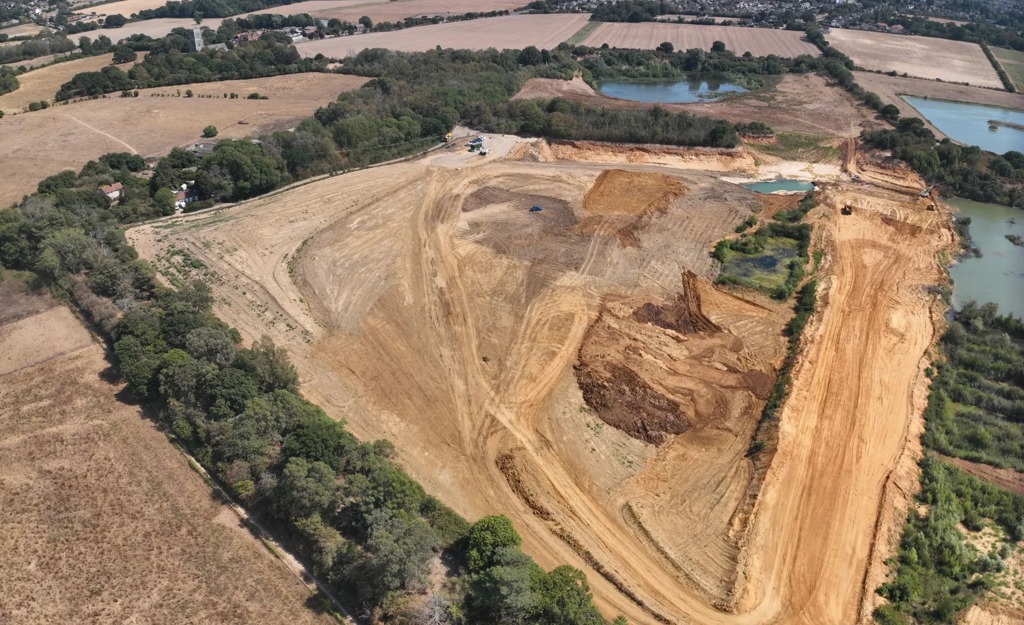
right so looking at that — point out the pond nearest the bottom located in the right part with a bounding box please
[723,241,800,290]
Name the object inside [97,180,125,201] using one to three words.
house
